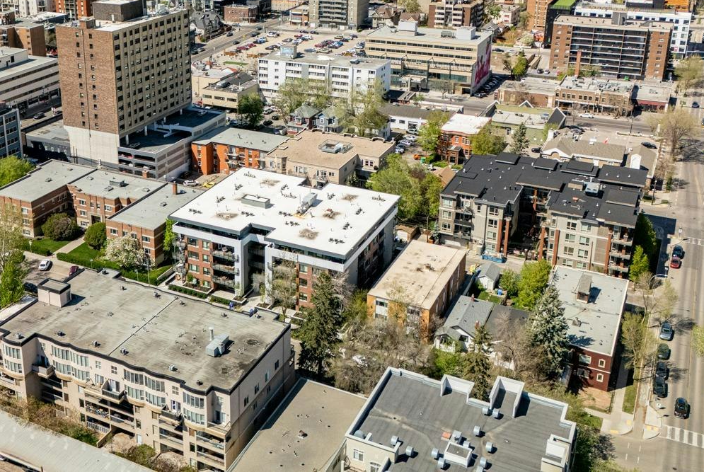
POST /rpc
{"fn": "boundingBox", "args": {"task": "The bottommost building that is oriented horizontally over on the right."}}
[345,367,579,472]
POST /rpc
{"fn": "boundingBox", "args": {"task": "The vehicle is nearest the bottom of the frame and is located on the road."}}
[675,399,689,417]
